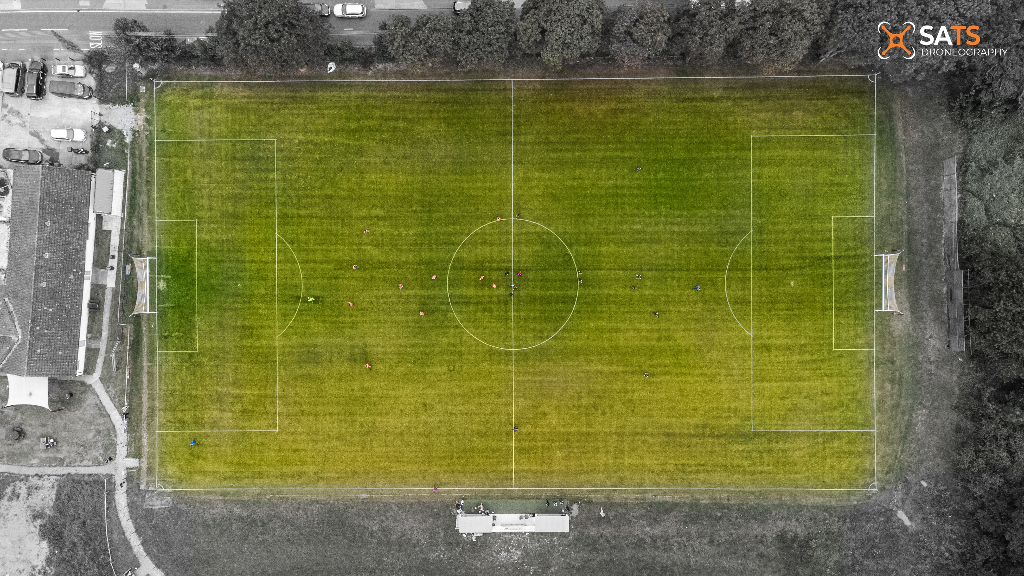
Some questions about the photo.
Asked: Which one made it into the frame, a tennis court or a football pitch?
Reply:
football pitch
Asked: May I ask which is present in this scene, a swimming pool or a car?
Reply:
car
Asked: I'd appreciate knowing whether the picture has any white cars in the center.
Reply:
No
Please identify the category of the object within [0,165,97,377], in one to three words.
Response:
building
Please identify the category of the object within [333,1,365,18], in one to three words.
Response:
car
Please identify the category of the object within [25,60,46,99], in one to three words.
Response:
truck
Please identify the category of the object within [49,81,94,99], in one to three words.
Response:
vehicle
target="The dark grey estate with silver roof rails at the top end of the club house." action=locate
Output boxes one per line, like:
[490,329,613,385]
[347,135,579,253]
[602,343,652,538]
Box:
[4,147,43,164]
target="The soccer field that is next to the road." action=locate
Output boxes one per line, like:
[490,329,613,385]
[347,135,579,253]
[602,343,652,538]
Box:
[154,74,877,499]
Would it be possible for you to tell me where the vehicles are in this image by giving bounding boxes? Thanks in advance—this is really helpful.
[52,126,87,142]
[52,61,87,77]
[303,1,331,18]
[453,2,471,17]
[67,148,87,153]
[1,60,25,97]
[25,60,46,99]
[49,81,94,99]
[4,147,43,164]
[333,1,365,18]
